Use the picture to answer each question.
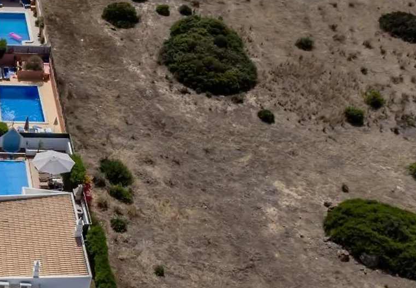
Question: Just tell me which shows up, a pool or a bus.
pool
